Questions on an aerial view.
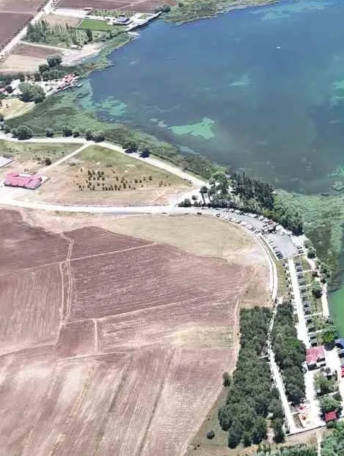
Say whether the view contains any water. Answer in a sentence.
Yes, water shows up in the scene.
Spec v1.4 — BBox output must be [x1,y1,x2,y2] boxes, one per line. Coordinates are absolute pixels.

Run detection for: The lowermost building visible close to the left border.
[2,173,49,190]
